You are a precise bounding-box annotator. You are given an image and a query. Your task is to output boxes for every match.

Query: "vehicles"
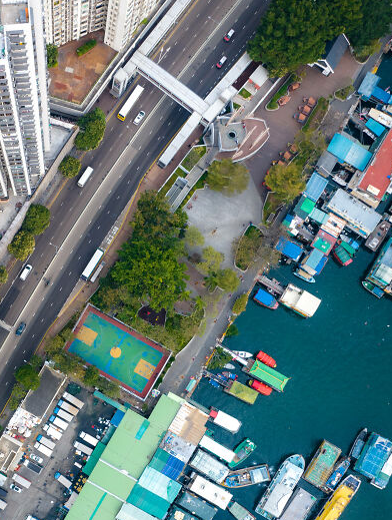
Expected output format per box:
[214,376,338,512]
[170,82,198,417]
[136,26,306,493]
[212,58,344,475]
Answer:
[43,422,65,442]
[133,110,146,126]
[115,83,145,125]
[11,472,34,492]
[19,264,33,283]
[47,413,71,432]
[0,499,10,513]
[57,396,81,415]
[80,247,106,284]
[222,28,234,44]
[29,453,46,465]
[78,431,100,449]
[33,441,55,460]
[22,457,45,477]
[9,481,26,493]
[15,321,26,336]
[77,166,93,188]
[53,467,75,491]
[53,405,76,422]
[35,433,58,452]
[214,57,226,70]
[62,390,86,410]
[72,438,96,458]
[25,513,38,520]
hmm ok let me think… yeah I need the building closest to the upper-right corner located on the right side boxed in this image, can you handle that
[309,32,345,79]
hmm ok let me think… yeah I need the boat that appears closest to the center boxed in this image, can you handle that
[250,286,280,308]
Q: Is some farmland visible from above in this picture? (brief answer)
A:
No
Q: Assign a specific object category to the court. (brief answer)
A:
basketball court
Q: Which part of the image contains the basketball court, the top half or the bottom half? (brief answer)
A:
bottom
